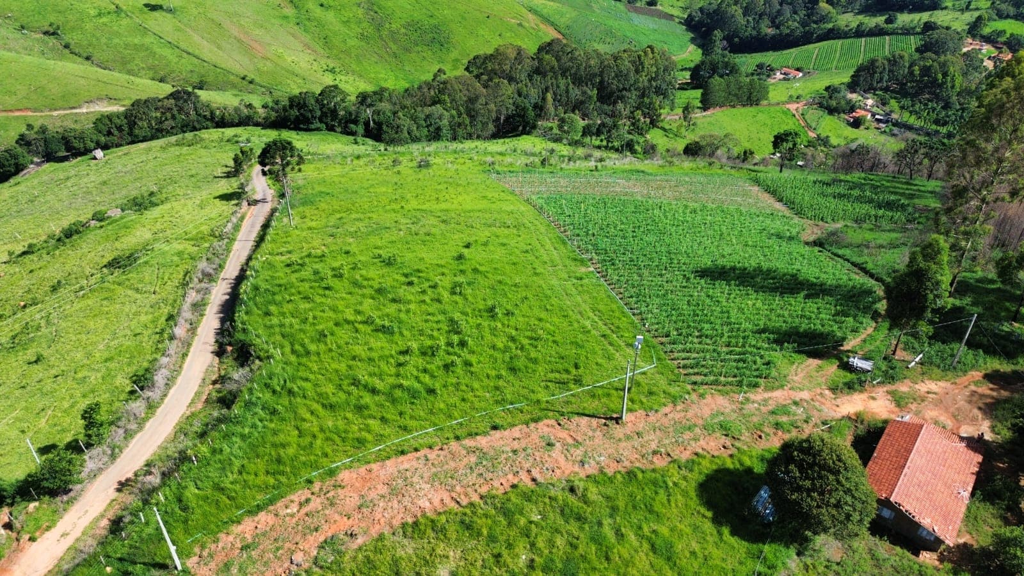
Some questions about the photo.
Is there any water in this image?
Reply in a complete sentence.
No, there is no water in the image.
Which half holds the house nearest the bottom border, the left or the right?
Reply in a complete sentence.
It is on the right.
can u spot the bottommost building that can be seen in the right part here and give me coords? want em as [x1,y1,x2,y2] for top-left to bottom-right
[864,417,991,562]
